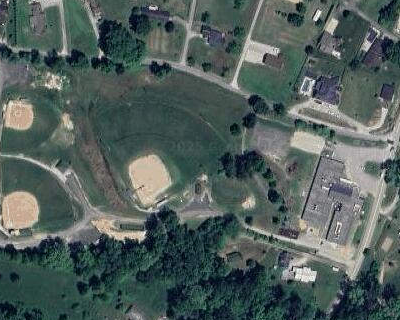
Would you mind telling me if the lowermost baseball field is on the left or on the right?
left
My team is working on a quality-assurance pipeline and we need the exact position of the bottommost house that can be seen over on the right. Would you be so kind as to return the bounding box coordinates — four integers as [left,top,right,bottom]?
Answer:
[294,266,319,283]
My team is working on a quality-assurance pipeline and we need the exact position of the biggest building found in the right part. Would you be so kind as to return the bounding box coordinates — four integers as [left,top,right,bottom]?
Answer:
[300,156,361,245]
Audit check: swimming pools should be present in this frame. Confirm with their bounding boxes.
[300,77,314,95]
